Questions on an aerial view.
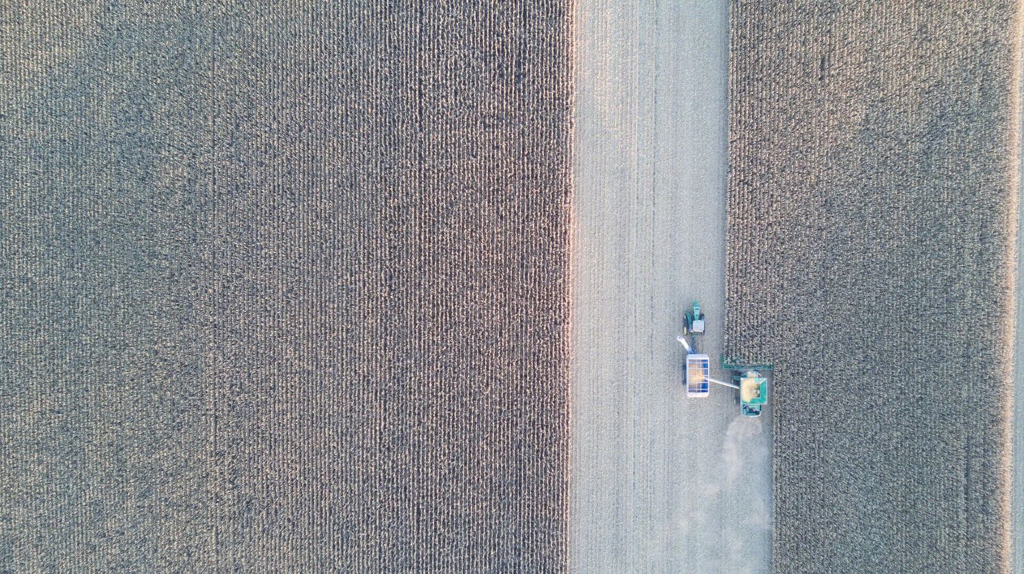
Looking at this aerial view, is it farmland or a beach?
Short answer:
farmland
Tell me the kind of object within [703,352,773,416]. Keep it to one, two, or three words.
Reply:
work vehicle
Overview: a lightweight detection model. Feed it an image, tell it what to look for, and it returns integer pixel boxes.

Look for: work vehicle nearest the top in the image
[683,300,705,337]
